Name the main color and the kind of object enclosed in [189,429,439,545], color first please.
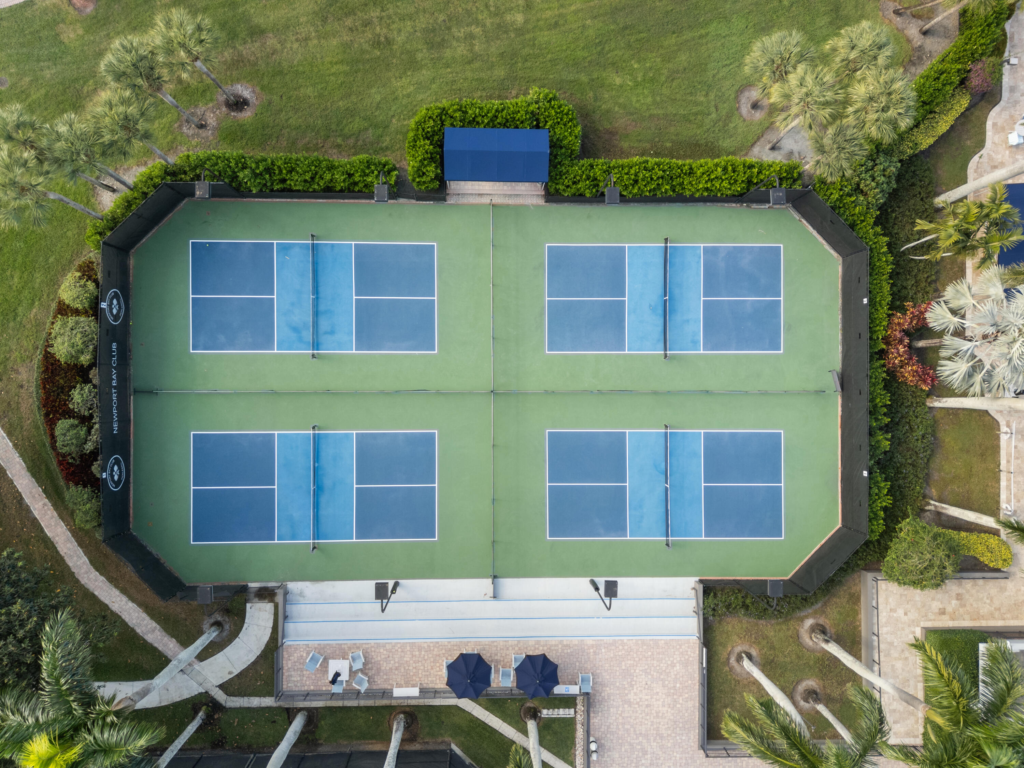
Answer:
blue sports court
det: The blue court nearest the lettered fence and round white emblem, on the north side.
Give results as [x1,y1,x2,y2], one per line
[188,238,439,355]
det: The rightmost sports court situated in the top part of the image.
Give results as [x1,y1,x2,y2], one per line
[544,242,785,355]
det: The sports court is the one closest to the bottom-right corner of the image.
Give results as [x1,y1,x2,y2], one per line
[545,428,786,541]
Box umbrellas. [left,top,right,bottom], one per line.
[514,653,560,699]
[447,654,491,698]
